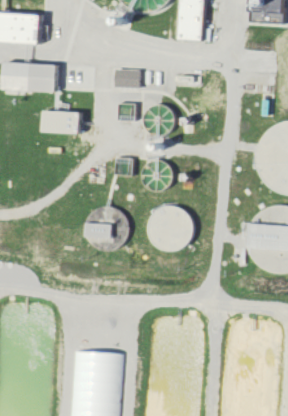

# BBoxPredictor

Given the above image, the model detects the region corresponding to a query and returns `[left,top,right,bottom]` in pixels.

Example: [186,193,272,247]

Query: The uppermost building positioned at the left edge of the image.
[0,12,44,44]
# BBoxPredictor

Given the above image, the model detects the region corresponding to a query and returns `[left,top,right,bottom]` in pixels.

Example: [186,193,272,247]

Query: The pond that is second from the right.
[146,314,205,416]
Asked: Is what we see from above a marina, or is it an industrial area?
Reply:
industrial area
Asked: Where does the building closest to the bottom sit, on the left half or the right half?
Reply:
left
